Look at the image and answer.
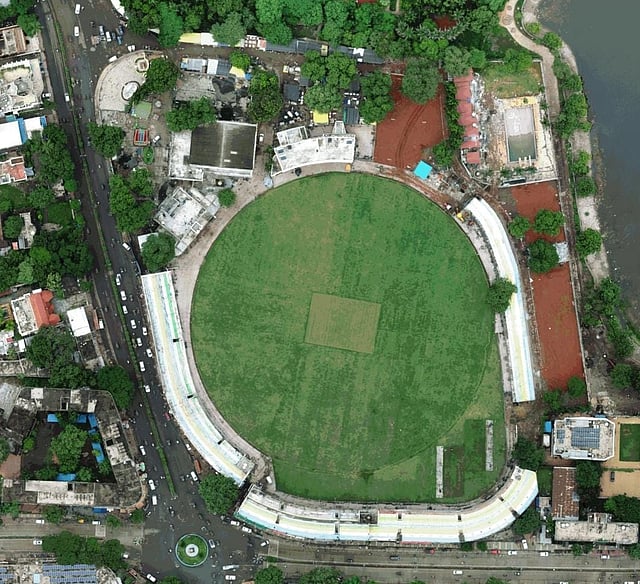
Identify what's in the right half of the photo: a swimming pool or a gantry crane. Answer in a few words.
swimming pool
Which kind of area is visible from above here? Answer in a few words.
sports ground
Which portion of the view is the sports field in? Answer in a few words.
center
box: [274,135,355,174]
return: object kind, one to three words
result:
building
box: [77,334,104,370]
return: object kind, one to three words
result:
house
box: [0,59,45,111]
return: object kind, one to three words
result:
building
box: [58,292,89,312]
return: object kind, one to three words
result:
shed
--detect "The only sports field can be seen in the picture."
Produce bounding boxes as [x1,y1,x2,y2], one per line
[160,158,517,510]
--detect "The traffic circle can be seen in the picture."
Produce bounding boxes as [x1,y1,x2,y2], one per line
[176,534,208,566]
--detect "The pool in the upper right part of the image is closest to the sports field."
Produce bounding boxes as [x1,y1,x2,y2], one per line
[496,94,556,186]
